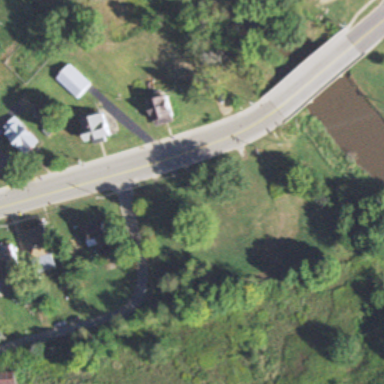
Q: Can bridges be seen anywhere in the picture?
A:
Yes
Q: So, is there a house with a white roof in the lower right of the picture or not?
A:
No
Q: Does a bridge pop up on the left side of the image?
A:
No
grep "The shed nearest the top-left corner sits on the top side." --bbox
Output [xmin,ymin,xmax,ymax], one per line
[58,63,94,98]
